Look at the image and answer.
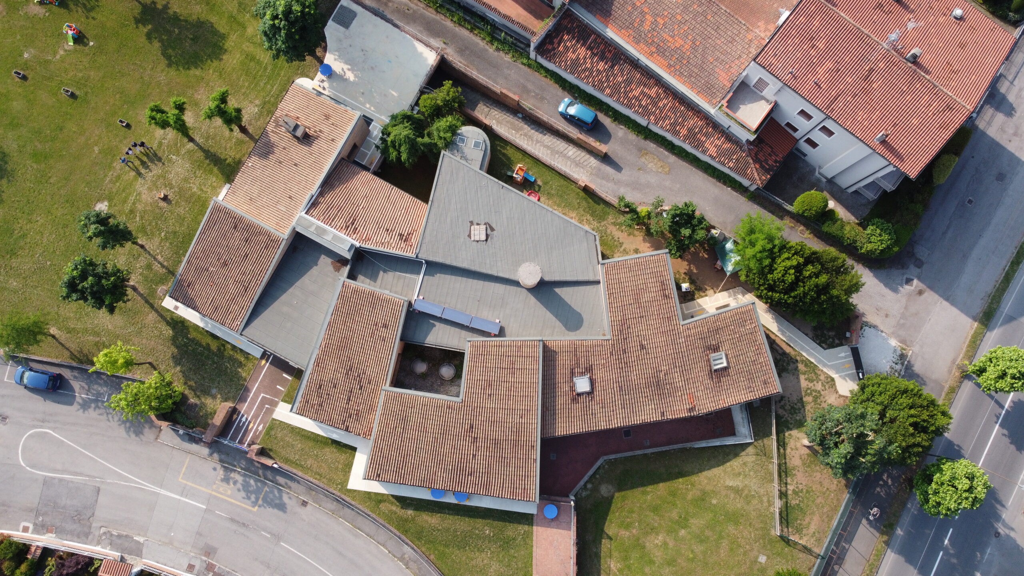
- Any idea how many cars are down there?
2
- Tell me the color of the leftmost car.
blue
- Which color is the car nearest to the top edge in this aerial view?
blue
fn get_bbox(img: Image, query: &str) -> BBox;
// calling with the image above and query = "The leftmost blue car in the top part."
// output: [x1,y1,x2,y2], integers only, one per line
[560,98,603,130]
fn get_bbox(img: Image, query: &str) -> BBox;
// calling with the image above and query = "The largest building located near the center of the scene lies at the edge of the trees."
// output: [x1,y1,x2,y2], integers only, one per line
[166,80,785,505]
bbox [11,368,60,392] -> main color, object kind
blue car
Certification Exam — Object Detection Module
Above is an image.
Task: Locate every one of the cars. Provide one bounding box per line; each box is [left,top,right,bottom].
[560,98,603,130]
[11,368,60,392]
